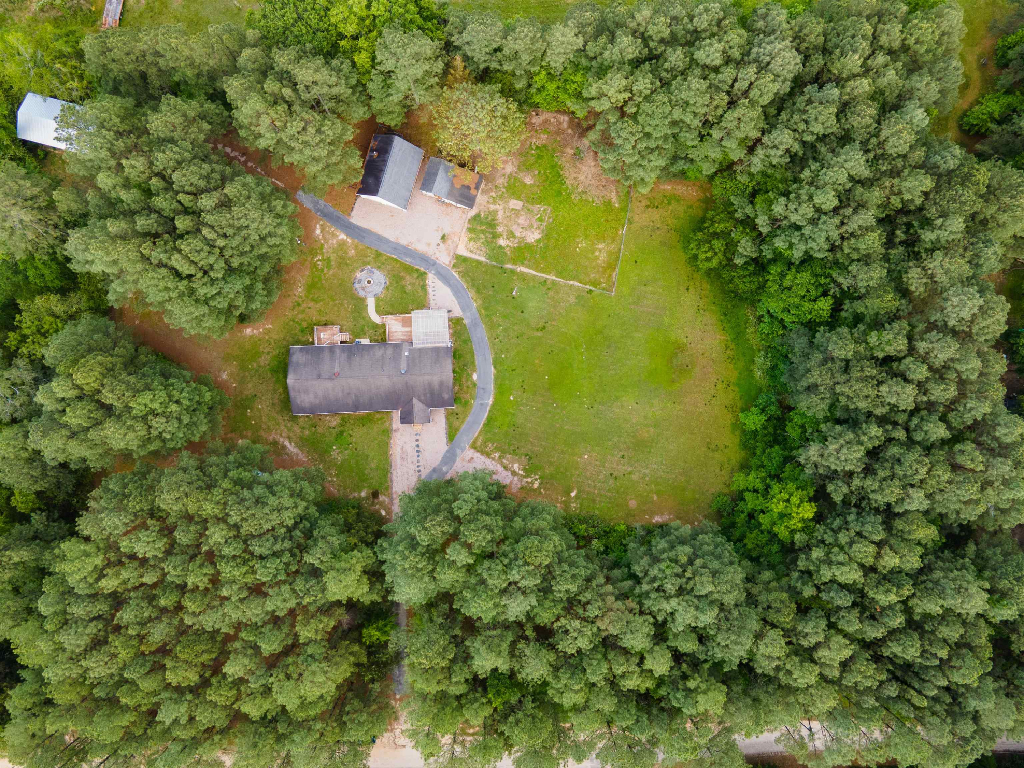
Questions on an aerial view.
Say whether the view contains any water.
No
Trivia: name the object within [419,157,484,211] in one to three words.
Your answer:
shed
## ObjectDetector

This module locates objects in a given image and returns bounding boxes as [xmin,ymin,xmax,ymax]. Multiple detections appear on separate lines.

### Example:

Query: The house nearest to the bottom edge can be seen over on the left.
[287,339,455,429]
